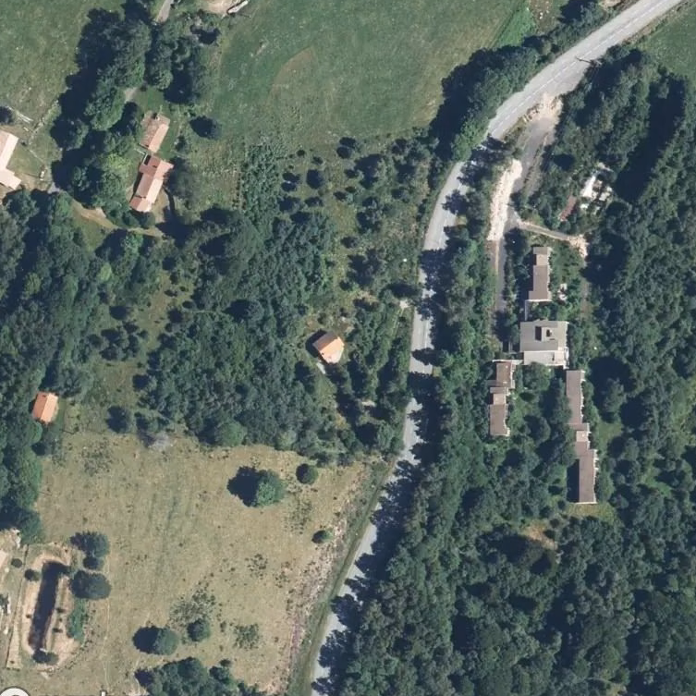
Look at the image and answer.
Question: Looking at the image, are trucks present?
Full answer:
No, this view has no truck in it.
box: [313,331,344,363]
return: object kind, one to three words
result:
house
